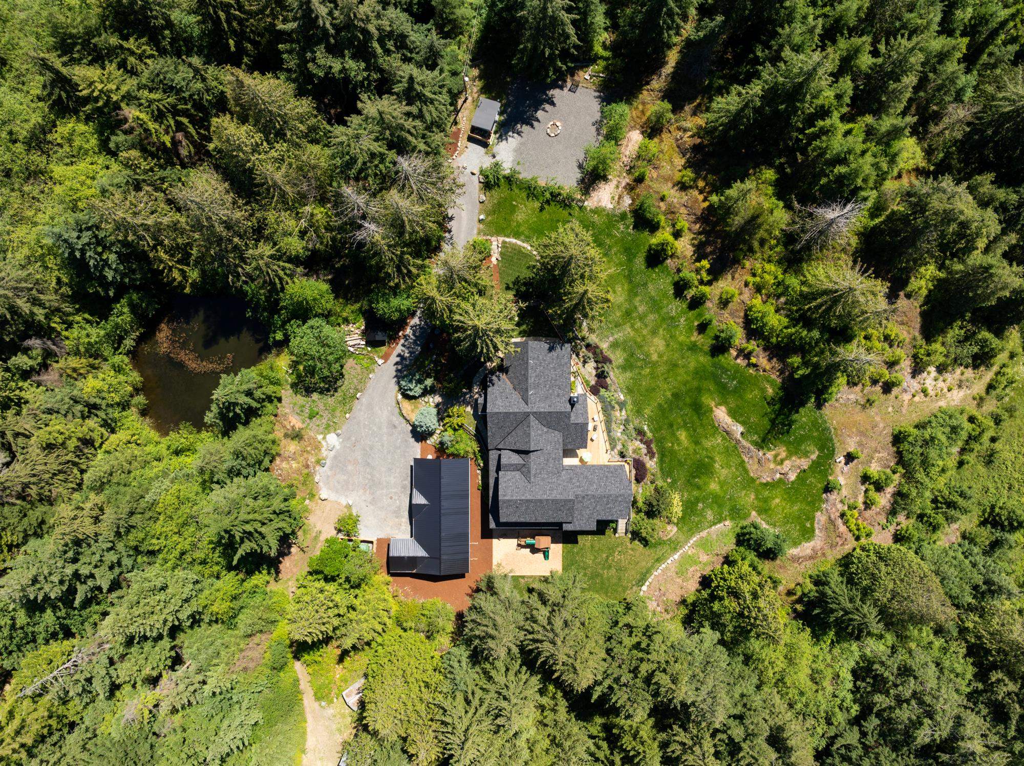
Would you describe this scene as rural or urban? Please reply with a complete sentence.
The land in this view is best described as rural.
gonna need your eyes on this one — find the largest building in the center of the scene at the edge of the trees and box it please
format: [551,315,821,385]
[478,341,632,531]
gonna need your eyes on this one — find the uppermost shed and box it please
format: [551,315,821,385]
[469,97,502,148]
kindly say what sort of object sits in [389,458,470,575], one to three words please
building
